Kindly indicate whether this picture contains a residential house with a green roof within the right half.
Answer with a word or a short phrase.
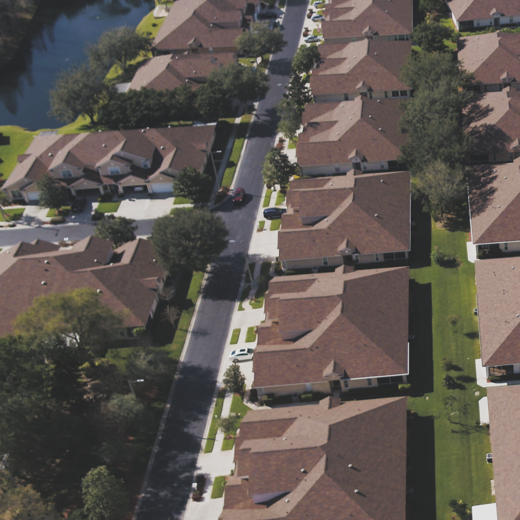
No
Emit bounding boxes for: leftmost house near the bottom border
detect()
[212,393,408,520]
